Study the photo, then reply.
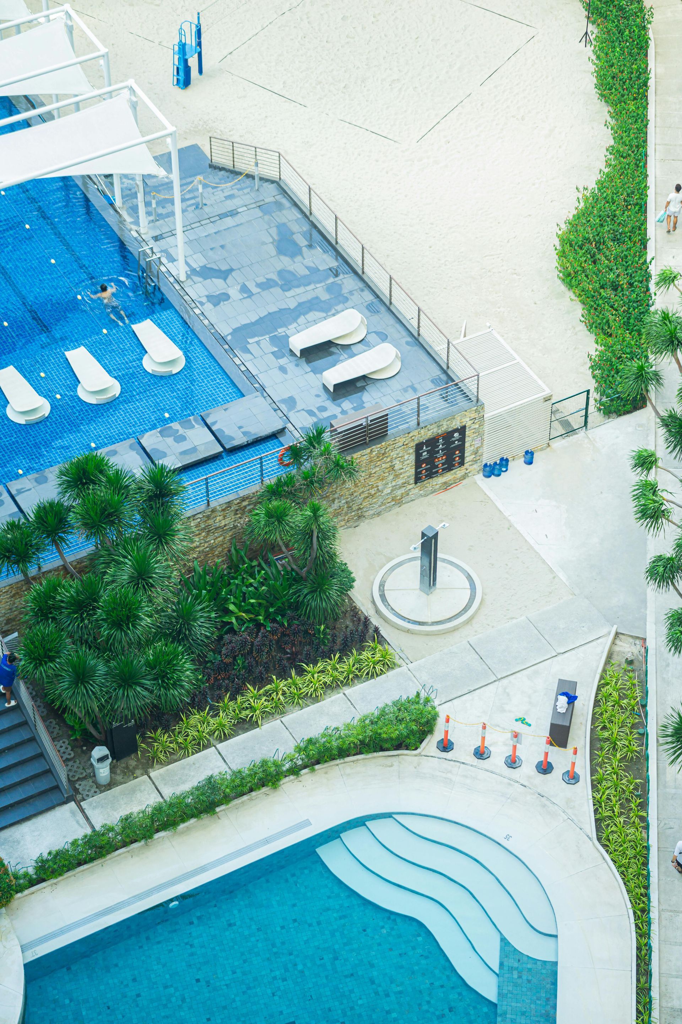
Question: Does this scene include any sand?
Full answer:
Yes, sand shows up in the scene.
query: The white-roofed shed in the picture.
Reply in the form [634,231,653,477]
[436,329,557,475]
